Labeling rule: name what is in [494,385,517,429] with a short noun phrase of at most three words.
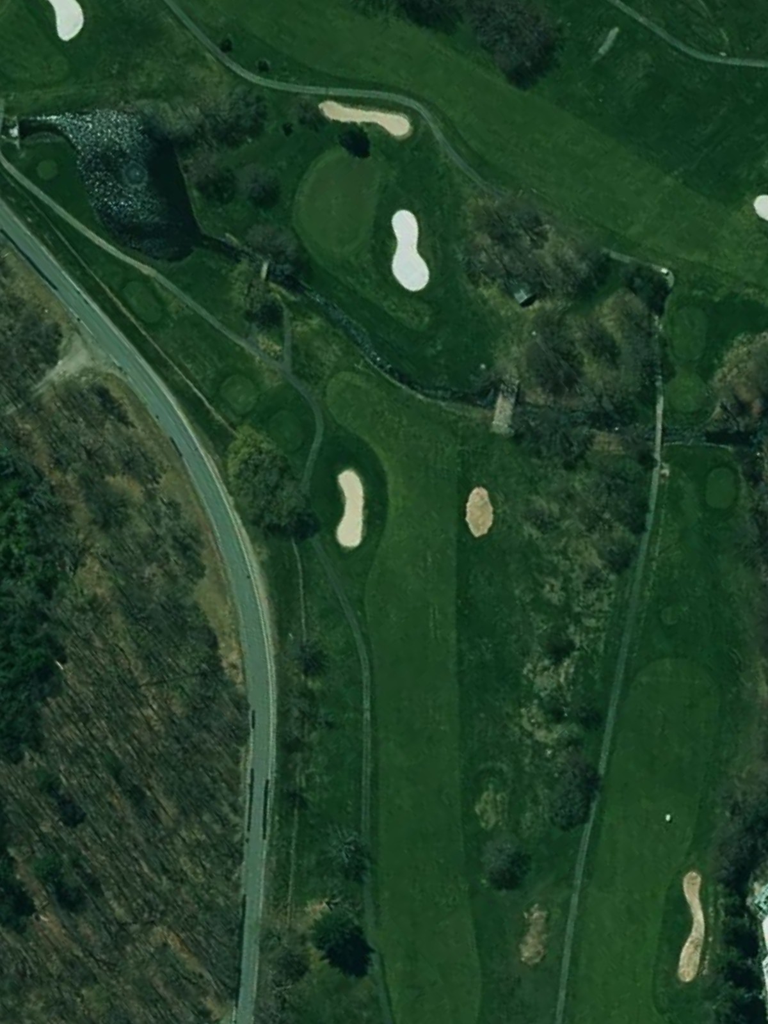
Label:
bridge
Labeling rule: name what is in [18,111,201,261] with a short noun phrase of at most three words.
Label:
pond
